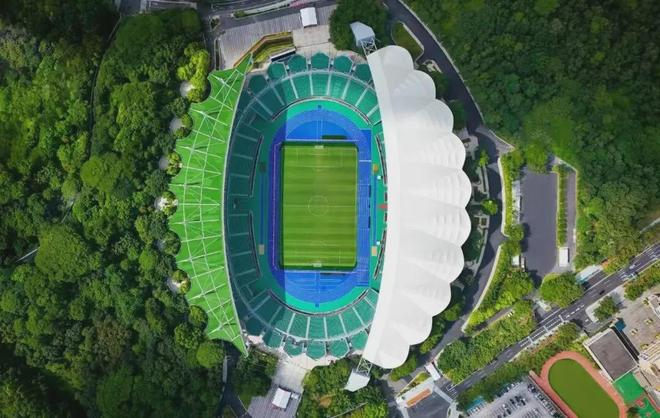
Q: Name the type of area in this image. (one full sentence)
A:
The area seen from above is a sports ground.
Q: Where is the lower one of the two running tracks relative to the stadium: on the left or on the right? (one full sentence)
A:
Relative to the stadium, the lower one of the two running tracks is on the right.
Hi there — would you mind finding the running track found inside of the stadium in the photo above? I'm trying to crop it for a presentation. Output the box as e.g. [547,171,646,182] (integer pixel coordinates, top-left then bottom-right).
[239,99,387,312]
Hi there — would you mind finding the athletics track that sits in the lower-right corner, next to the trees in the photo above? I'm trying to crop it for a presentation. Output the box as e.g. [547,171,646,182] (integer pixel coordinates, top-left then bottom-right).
[532,350,632,418]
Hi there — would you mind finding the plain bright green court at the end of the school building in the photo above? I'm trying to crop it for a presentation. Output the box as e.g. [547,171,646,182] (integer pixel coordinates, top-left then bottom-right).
[614,371,643,403]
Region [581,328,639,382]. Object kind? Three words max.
building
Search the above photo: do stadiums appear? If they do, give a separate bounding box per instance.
[168,21,472,392]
